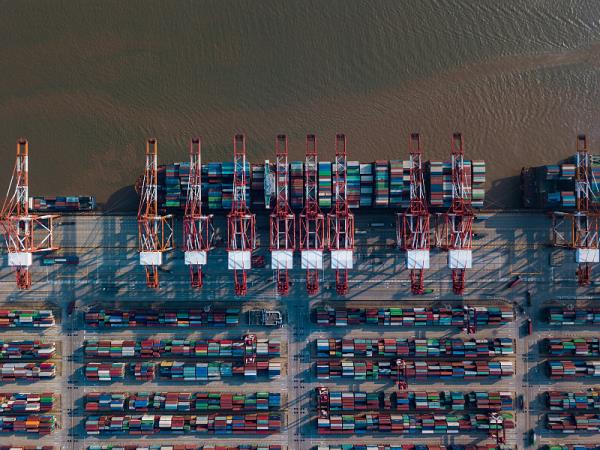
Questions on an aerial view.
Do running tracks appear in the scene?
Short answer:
No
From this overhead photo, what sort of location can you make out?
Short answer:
port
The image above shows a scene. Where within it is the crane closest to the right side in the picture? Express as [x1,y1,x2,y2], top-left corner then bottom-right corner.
[538,138,600,291]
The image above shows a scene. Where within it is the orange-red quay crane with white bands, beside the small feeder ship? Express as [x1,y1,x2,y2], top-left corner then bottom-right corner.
[0,138,66,291]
